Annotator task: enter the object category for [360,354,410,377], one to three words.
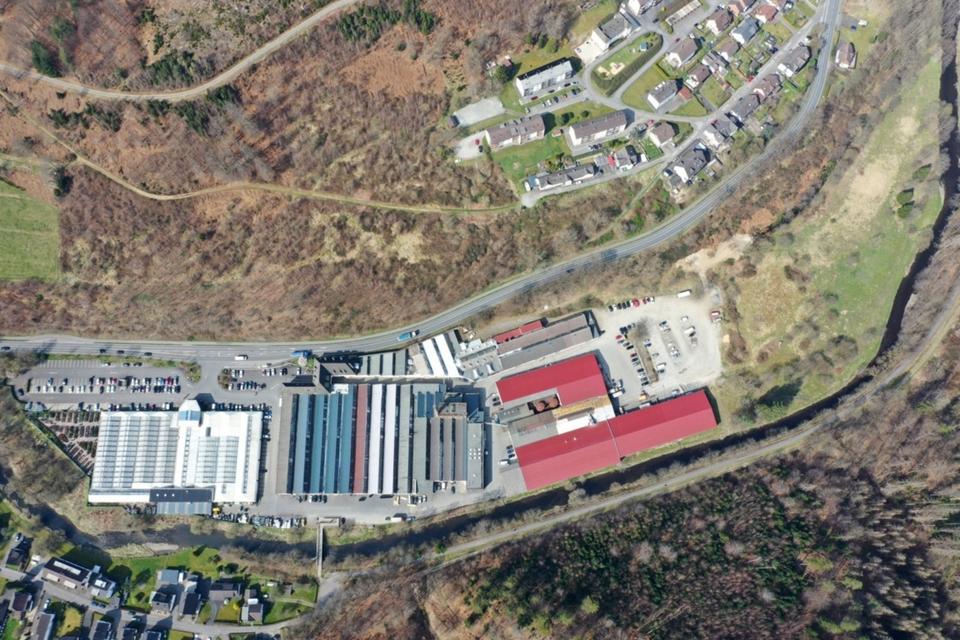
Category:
shed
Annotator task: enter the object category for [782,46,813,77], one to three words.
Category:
house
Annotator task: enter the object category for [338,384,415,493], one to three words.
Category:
building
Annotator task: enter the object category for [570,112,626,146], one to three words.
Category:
building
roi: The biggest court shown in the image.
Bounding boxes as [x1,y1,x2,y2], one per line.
[453,97,503,127]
